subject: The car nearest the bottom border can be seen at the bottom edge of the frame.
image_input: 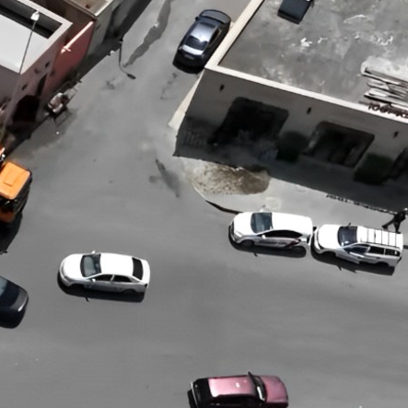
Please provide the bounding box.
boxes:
[190,368,289,408]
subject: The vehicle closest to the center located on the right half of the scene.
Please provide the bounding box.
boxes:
[229,208,312,256]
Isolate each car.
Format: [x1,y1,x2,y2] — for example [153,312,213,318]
[229,208,312,256]
[190,368,289,408]
[313,221,402,270]
[0,276,30,323]
[173,9,228,71]
[58,248,149,297]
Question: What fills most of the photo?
paved ground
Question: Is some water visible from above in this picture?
No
